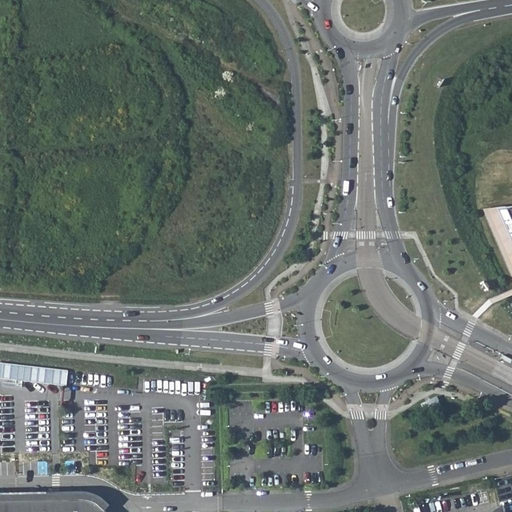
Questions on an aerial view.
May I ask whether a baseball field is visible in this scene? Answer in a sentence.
No, I can see no baseball field in this picture.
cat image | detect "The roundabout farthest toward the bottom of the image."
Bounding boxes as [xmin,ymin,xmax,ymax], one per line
[297,250,439,392]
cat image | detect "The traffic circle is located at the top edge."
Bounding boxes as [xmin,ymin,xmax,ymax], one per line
[314,0,412,58]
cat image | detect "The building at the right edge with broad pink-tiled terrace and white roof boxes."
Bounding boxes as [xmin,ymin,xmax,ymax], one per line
[484,206,512,276]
